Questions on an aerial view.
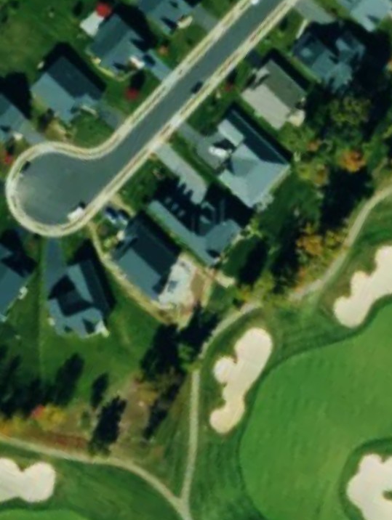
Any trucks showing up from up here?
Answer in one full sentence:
No, the frame has no truck in it.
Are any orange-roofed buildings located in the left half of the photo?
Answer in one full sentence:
No, I see no orange-roofed building in the left half of the photo.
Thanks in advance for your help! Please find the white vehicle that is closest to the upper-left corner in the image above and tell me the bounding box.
[69,204,84,218]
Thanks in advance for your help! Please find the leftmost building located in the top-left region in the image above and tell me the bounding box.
[0,93,33,152]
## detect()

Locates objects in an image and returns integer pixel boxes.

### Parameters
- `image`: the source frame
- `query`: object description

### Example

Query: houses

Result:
[109,218,186,295]
[241,61,310,133]
[211,111,298,212]
[44,258,115,342]
[289,19,366,91]
[135,0,200,36]
[0,245,39,322]
[340,0,392,30]
[144,187,249,271]
[0,93,33,152]
[86,14,151,77]
[30,56,102,129]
